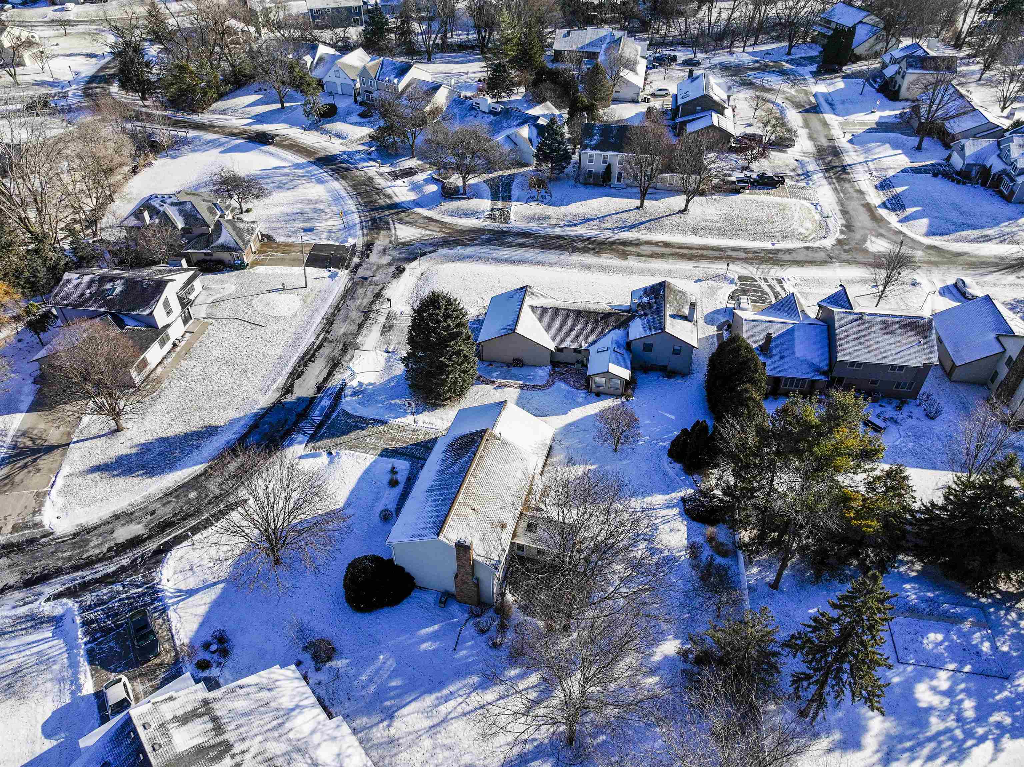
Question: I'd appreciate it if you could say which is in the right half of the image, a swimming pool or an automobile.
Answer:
automobile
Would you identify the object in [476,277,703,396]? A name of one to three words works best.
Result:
house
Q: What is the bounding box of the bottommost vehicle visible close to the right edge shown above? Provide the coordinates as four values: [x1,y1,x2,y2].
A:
[954,274,983,299]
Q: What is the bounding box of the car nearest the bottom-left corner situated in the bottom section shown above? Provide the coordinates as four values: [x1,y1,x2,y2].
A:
[96,663,133,715]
